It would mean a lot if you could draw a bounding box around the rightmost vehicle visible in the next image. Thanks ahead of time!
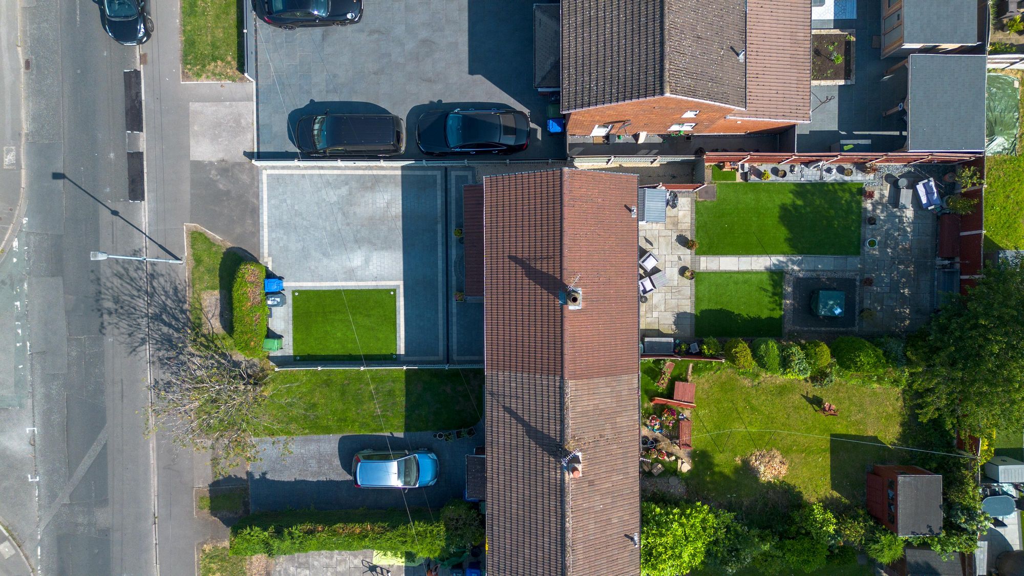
[418,104,530,156]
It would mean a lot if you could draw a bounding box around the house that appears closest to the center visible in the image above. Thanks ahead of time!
[462,167,641,378]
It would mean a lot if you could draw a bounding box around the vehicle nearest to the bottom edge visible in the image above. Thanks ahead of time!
[353,447,439,495]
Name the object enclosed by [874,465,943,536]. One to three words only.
shed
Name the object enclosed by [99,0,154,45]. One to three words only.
car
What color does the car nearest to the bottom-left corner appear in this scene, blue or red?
blue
